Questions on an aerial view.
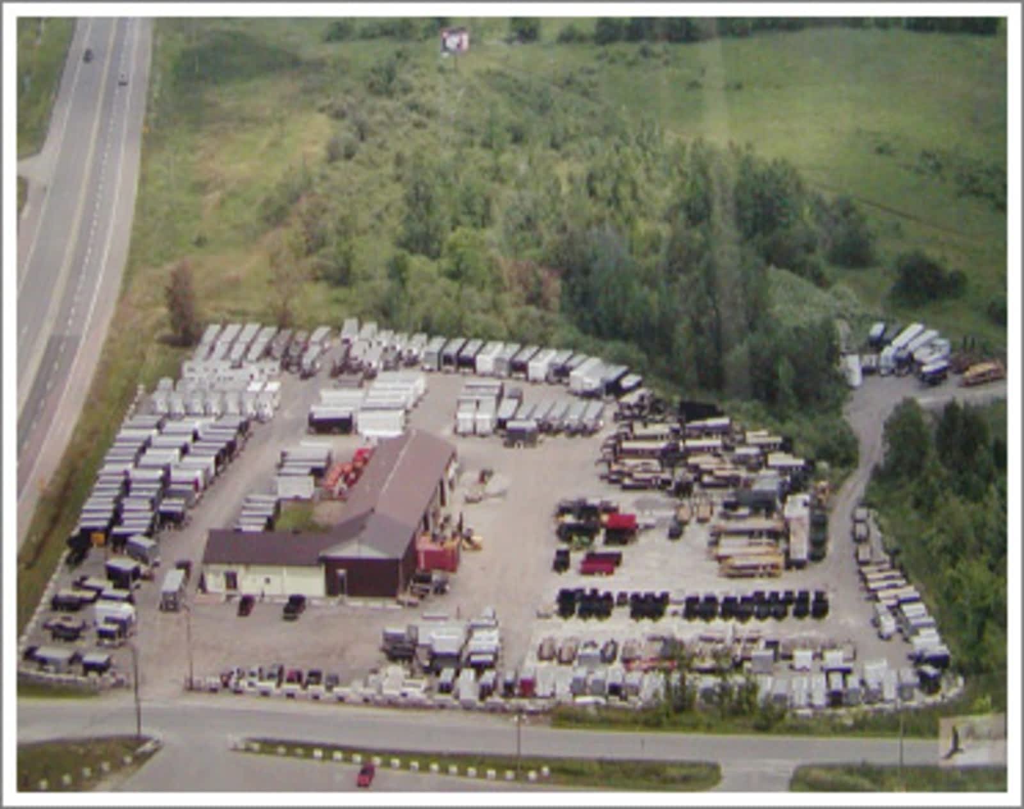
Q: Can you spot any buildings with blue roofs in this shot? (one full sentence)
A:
No, there is no building with a blue roof in the image.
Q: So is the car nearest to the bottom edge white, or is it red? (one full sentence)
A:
The color of the car nearest to the bottom edge is red.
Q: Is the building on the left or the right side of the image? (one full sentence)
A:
The building sits on the left side.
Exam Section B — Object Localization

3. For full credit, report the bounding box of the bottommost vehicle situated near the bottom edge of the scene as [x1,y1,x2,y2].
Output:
[353,760,379,786]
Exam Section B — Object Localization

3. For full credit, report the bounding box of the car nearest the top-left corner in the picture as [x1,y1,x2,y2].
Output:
[82,47,94,59]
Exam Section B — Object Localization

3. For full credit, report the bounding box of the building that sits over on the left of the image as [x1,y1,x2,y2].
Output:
[204,432,455,592]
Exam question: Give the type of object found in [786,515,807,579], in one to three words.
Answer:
trailer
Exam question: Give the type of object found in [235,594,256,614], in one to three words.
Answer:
car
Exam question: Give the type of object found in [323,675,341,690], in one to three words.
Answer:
vehicle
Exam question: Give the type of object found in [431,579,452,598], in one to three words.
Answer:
work vehicle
